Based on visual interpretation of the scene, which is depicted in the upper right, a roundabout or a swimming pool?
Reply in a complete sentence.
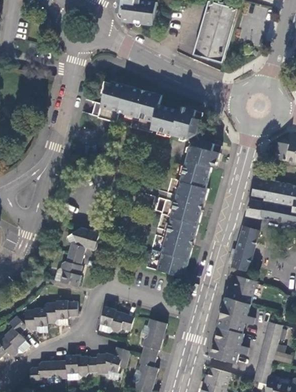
The one visible in the upper right is a roundabout.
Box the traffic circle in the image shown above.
[229,74,292,136]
